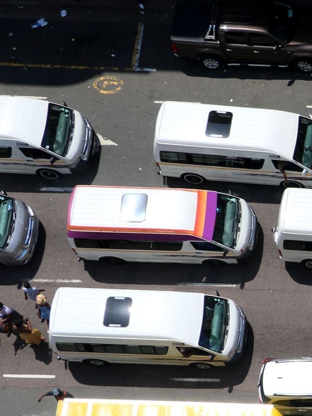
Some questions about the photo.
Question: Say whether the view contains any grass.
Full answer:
No, there is no grass in the image.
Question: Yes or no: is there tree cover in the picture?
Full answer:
No, there is no tree cover in the image.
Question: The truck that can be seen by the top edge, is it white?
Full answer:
No, the color of the truck that can be seen by the top edge is black.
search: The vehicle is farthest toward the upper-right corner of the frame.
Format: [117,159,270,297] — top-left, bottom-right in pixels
[173,0,312,72]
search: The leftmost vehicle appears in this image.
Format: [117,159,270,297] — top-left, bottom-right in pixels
[0,190,42,268]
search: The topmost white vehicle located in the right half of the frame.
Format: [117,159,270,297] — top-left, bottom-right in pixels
[151,102,312,189]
